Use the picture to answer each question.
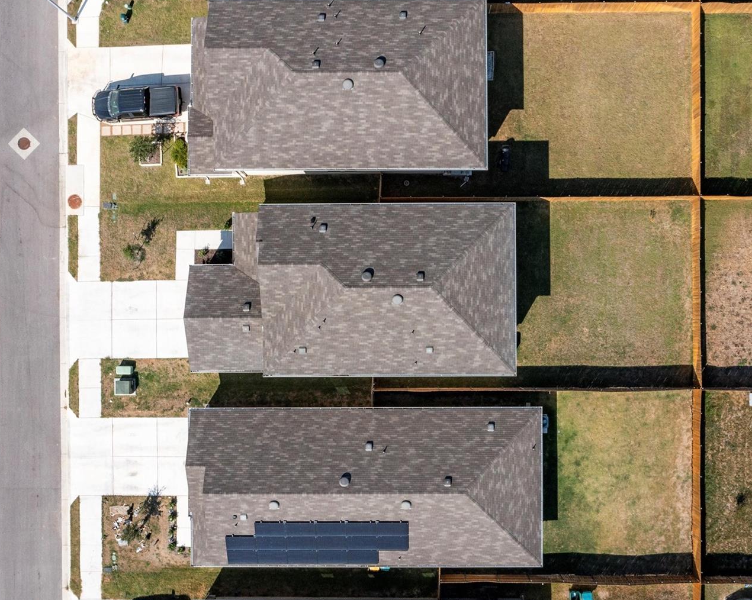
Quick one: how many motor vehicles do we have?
1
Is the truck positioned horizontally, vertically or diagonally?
horizontally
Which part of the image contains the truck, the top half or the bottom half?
top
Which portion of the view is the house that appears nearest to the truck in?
top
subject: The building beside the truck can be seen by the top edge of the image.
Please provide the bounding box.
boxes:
[185,0,487,194]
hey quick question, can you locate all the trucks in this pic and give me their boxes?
[88,83,186,124]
